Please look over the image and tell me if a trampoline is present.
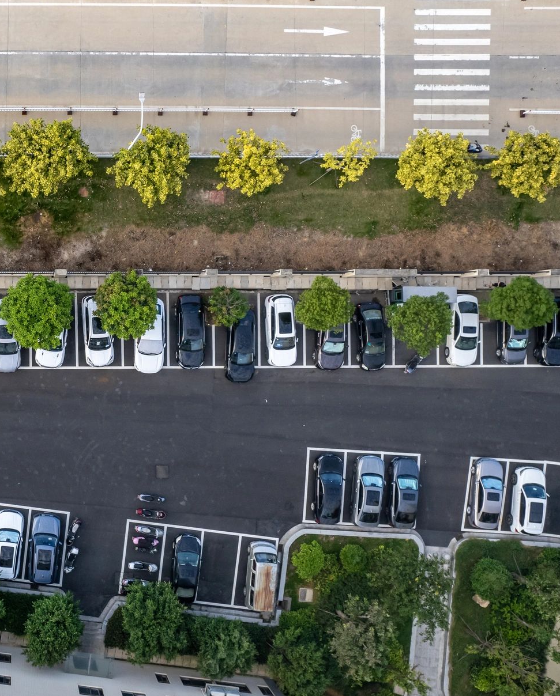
No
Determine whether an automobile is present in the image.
Yes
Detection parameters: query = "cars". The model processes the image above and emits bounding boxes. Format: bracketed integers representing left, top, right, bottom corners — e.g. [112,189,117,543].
[351,454,390,528]
[444,295,484,368]
[170,532,205,603]
[494,302,535,365]
[29,511,64,585]
[507,466,553,535]
[533,296,560,367]
[0,509,26,581]
[310,452,349,525]
[33,316,67,369]
[0,324,24,374]
[176,294,210,370]
[314,319,351,370]
[352,302,392,371]
[134,298,167,374]
[263,294,302,368]
[224,309,260,383]
[81,295,118,368]
[387,456,426,529]
[466,456,509,530]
